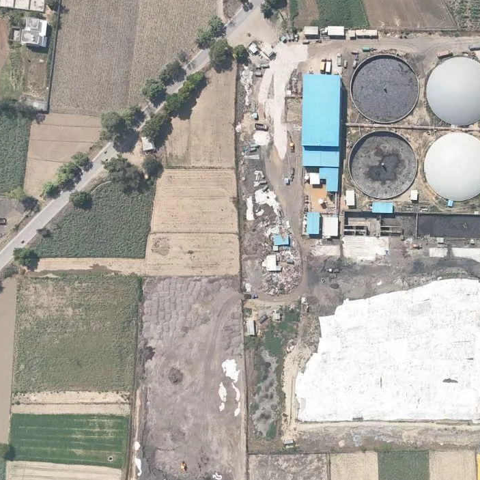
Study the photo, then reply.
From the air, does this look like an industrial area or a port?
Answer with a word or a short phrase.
industrial area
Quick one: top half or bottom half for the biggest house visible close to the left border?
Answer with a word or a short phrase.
top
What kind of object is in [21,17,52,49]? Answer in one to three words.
house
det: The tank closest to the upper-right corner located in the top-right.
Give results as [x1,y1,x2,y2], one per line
[426,55,480,125]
